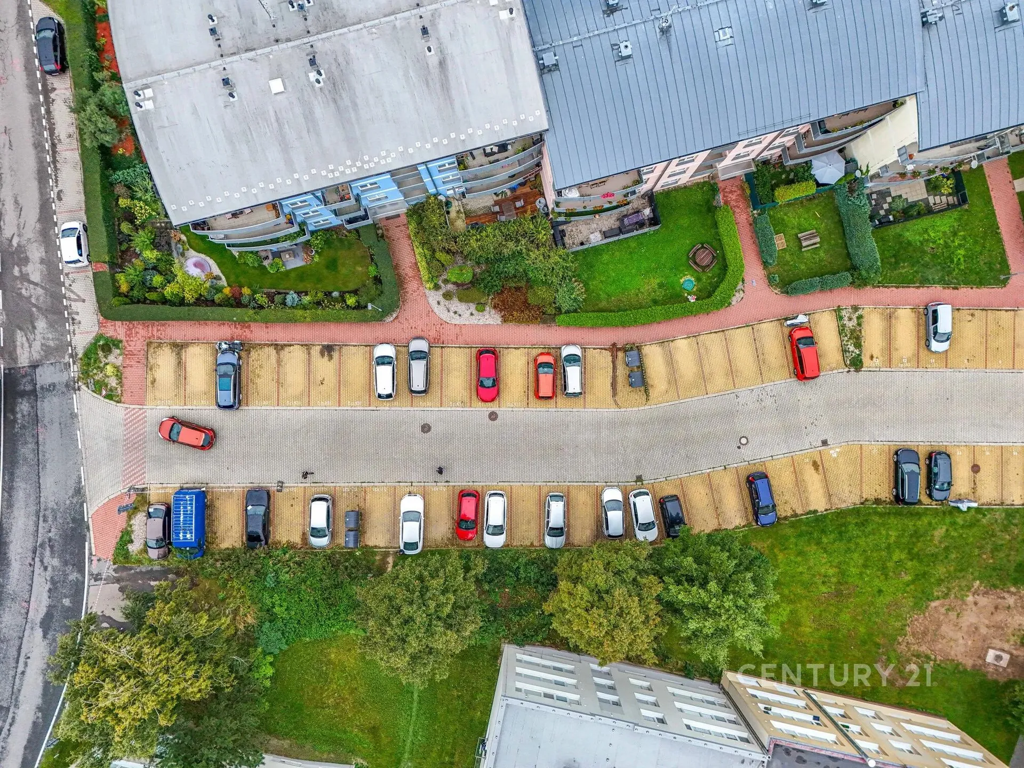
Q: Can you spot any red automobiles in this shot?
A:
Yes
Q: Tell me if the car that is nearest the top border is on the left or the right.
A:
left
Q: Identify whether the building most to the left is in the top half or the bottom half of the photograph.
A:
top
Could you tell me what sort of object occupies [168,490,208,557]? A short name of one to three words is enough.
van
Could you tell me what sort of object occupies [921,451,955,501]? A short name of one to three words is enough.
car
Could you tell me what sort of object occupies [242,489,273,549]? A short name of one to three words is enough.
car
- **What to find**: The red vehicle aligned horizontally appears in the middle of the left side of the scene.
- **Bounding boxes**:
[160,416,218,450]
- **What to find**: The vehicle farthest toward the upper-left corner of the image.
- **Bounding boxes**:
[34,20,68,78]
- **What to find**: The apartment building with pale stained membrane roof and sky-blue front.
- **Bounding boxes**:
[114,0,548,250]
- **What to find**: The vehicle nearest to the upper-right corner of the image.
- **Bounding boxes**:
[921,304,953,353]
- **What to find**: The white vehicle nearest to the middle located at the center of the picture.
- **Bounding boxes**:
[558,345,586,398]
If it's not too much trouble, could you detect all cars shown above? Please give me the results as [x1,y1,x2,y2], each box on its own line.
[481,490,509,547]
[242,489,273,549]
[542,492,570,548]
[657,491,689,541]
[306,494,335,547]
[397,492,426,554]
[921,304,953,353]
[558,345,586,398]
[888,447,922,506]
[921,451,955,501]
[404,338,432,395]
[143,503,174,559]
[34,20,68,78]
[628,488,659,541]
[744,471,777,526]
[454,488,481,540]
[599,486,627,540]
[474,348,501,402]
[371,344,399,400]
[532,352,558,400]
[785,326,821,382]
[213,349,245,406]
[59,221,92,269]
[160,416,218,450]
